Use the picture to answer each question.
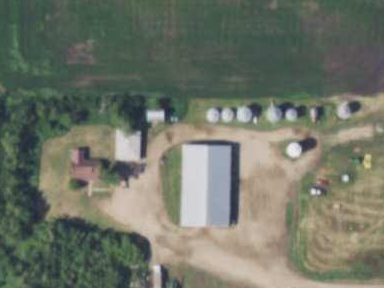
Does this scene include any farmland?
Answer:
Yes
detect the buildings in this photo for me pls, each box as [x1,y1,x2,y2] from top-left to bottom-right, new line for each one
[71,148,100,181]
[146,109,163,121]
[180,144,231,228]
[116,130,141,160]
